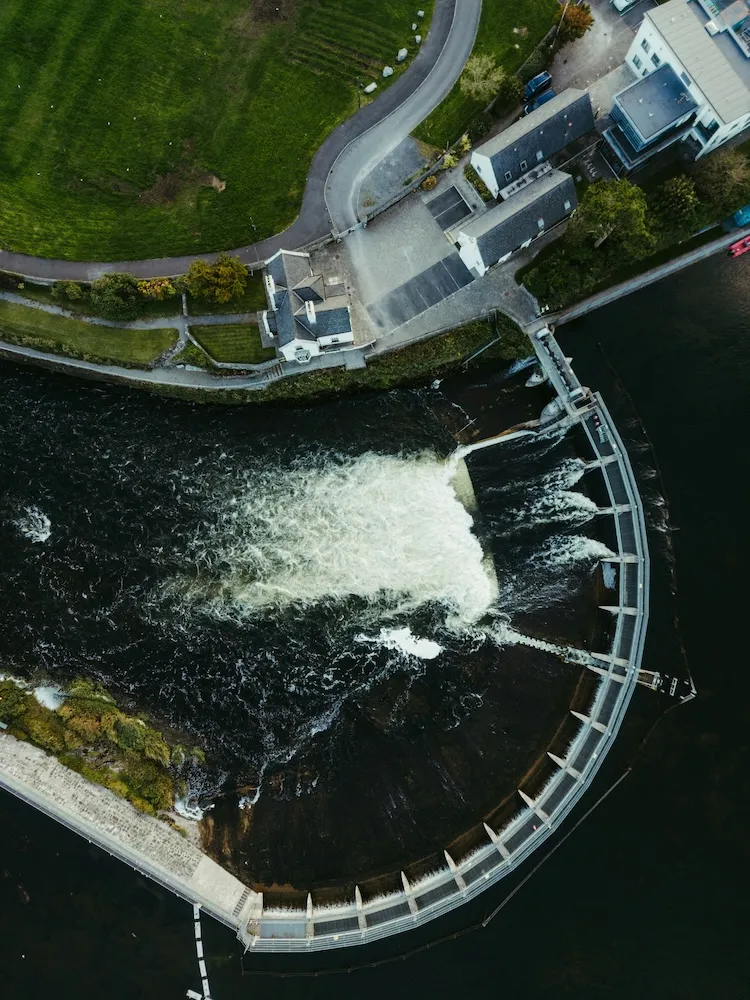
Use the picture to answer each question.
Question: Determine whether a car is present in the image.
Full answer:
Yes, looking at the shot, I can spot a car.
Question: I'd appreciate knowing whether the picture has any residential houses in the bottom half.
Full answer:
No, there's no residential house to be seen in the bottom half.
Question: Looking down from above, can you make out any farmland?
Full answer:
No, the picture contains no farmland.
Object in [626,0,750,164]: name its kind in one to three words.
building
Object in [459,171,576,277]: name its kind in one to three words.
house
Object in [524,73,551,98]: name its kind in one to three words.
car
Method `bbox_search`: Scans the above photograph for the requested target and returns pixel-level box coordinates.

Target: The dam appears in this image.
[247,396,653,956]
